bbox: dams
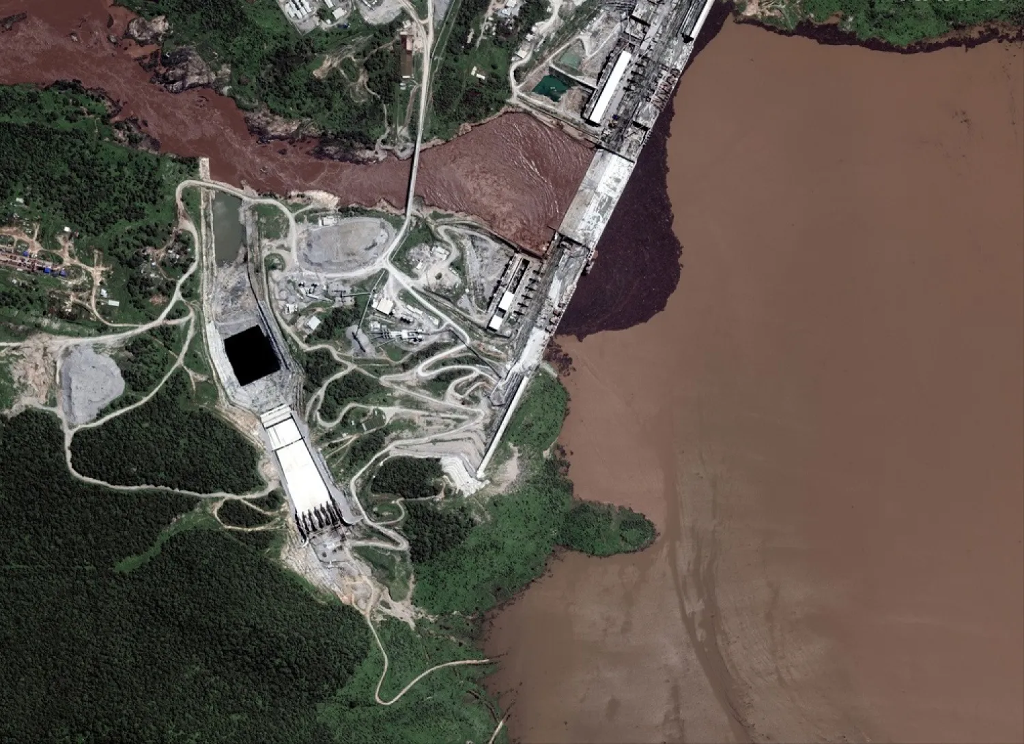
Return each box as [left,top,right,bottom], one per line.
[473,0,715,479]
